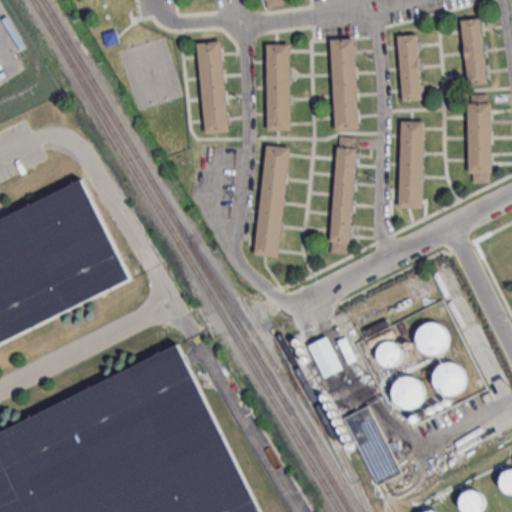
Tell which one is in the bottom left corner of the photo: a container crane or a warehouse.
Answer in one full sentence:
The one visible in the bottom left corner of the photo is a warehouse.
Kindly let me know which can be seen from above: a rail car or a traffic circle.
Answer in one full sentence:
The image shows a rail car.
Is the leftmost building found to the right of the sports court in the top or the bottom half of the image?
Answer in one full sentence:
It is in the top half that the leftmost building found to the right of the sports court appears.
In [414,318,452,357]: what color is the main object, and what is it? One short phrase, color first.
white storage tank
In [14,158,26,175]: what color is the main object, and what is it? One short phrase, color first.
white vehicle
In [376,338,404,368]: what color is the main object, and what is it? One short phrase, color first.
white storage tank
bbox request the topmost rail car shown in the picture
[274,331,297,368]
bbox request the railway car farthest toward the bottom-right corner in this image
[312,402,336,438]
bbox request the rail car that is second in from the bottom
[293,366,316,402]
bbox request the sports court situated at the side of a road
[122,40,184,110]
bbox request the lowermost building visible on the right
[345,406,400,482]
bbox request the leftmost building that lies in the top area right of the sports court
[196,40,231,133]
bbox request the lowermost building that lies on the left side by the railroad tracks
[0,342,264,512]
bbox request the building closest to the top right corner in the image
[459,18,488,88]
